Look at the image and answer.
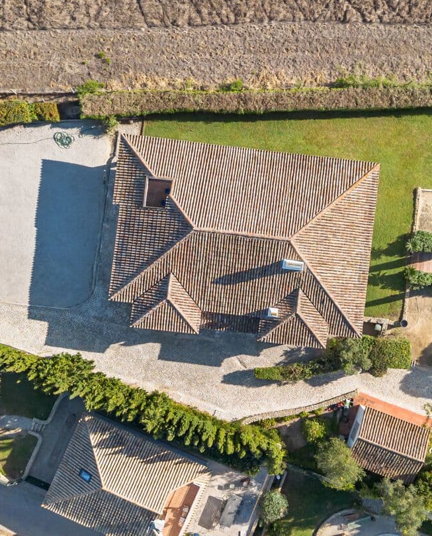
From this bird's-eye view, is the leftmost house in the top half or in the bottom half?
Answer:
bottom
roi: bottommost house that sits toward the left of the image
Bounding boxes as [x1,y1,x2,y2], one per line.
[43,416,212,536]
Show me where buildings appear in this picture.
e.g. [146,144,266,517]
[347,403,432,486]
[43,416,212,536]
[102,132,381,350]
